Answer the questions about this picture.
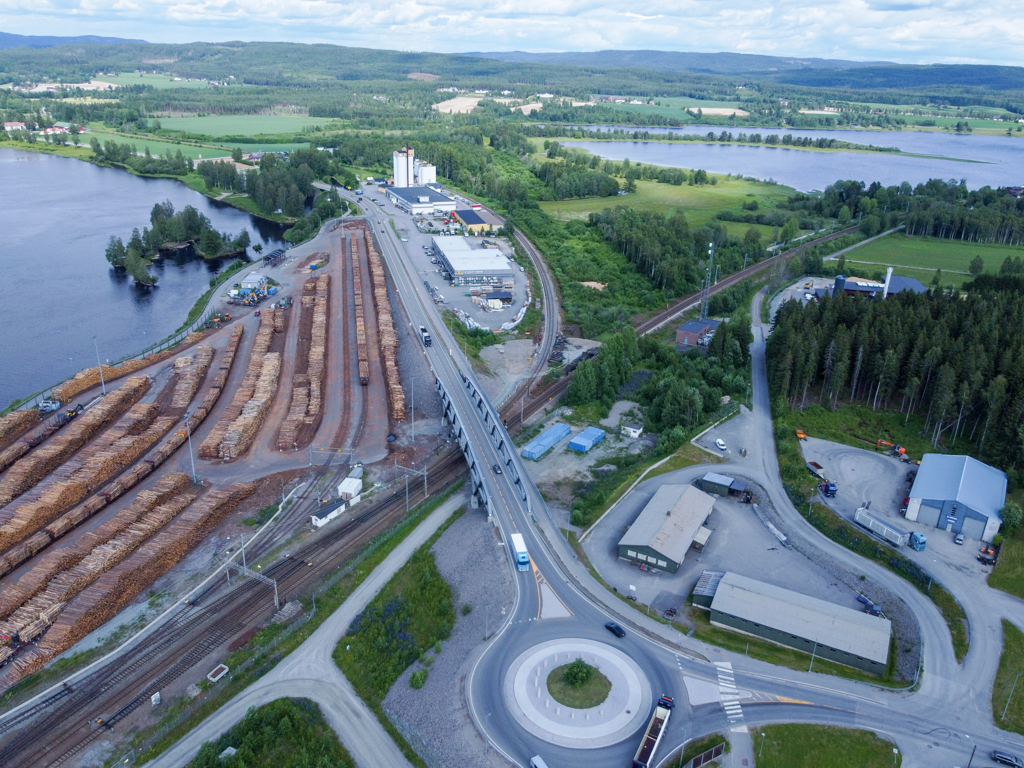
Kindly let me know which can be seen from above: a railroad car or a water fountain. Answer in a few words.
railroad car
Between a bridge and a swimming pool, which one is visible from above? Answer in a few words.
bridge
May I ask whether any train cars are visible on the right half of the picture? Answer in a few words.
No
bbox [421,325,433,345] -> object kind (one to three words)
vehicle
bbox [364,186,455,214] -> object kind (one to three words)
building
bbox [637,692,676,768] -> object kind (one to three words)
truck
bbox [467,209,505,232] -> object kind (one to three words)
building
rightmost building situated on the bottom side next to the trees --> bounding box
[905,453,1012,542]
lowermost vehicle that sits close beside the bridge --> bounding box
[509,520,530,567]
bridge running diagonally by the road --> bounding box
[434,370,537,501]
